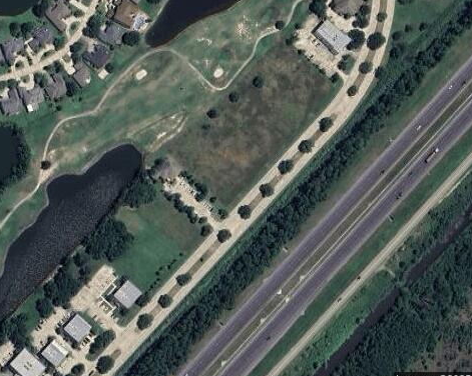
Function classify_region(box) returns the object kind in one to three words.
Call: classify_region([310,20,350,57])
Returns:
building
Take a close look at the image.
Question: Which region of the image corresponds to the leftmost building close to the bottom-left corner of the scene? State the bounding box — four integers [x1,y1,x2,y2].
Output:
[12,349,46,376]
